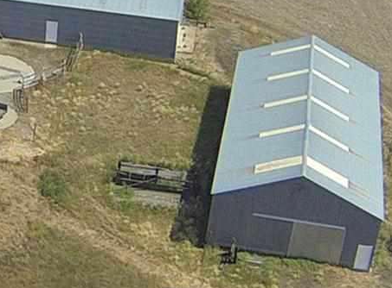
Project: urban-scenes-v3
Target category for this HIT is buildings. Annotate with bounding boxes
[0,0,189,63]
[205,36,384,274]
